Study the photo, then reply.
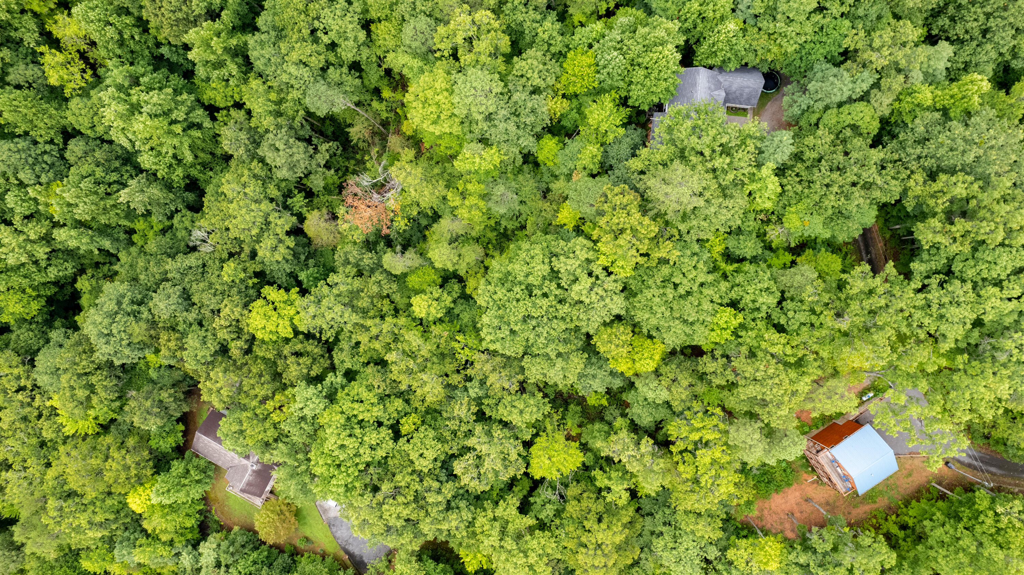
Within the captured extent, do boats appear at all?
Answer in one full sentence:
No, I can see no boat in this picture.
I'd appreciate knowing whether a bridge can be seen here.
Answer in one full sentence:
No, no bridge can be seen from above.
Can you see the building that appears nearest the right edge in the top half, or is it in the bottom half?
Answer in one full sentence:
Seen from above, the building that appears nearest the right edge lies in the bottom half of the view.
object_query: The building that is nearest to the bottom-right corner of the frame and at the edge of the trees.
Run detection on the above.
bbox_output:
[800,421,899,497]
